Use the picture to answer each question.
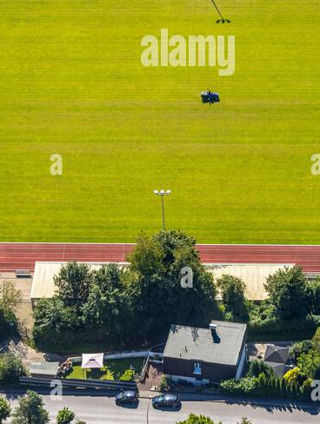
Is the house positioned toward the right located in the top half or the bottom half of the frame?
bottom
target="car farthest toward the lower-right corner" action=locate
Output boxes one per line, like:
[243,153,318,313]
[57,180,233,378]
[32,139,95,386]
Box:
[151,390,181,405]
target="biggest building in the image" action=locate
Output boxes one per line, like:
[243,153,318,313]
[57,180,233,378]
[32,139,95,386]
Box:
[159,324,253,394]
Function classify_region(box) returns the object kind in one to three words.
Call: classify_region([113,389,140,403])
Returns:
car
